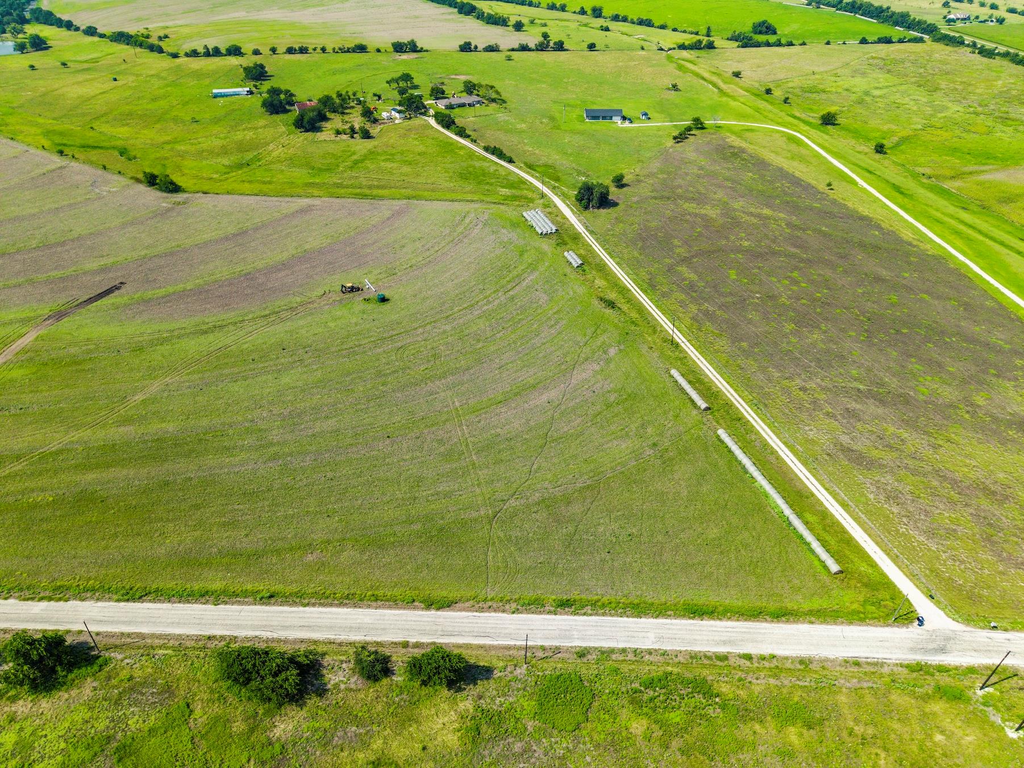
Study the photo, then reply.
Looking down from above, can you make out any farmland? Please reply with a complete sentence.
Yes, farmland can be seen from above here.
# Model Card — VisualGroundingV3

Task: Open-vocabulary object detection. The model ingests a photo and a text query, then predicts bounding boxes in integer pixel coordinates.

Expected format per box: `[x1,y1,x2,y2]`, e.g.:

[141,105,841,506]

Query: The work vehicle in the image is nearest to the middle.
[339,281,368,294]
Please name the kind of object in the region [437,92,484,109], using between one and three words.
house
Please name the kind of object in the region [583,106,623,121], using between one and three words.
house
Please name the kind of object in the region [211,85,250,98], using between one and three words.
barn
